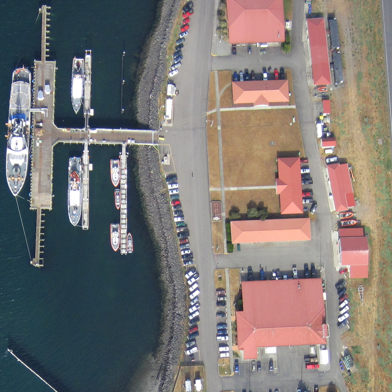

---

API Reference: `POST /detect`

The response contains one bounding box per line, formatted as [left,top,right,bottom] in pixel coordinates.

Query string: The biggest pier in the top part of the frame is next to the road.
[29,6,159,267]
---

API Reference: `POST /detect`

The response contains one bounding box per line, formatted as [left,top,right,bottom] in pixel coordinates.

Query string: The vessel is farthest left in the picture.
[5,64,30,196]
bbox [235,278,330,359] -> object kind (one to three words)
building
